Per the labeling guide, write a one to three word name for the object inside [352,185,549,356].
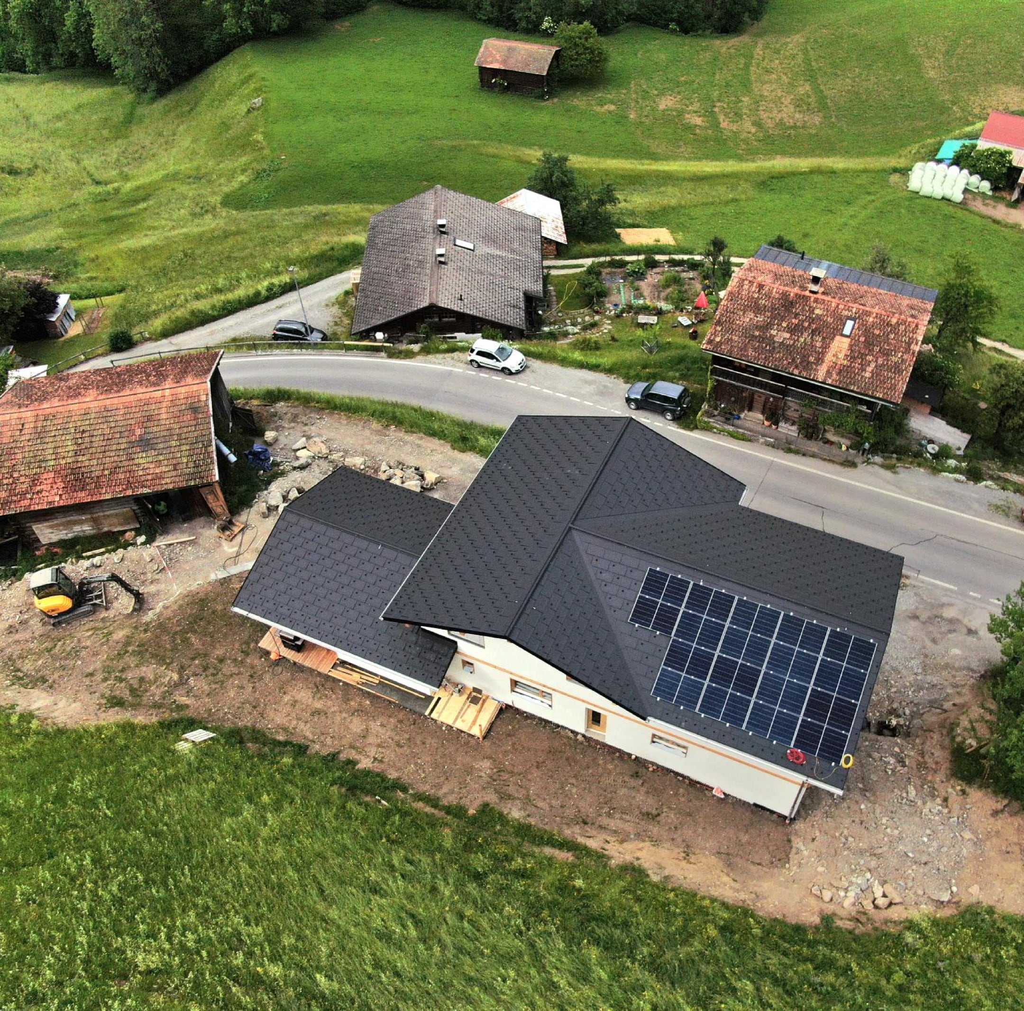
house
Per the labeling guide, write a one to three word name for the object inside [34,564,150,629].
work vehicle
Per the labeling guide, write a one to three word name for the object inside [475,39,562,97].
shed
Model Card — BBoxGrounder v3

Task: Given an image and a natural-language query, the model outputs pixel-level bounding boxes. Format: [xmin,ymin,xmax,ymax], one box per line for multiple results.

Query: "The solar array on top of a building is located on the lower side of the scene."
[628,567,877,763]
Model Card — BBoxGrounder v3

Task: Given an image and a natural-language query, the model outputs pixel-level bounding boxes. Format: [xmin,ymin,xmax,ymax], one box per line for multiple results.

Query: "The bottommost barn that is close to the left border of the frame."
[0,349,225,540]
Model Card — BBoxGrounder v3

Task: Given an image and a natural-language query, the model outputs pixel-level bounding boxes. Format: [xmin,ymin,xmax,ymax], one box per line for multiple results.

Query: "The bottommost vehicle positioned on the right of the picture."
[622,378,690,421]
